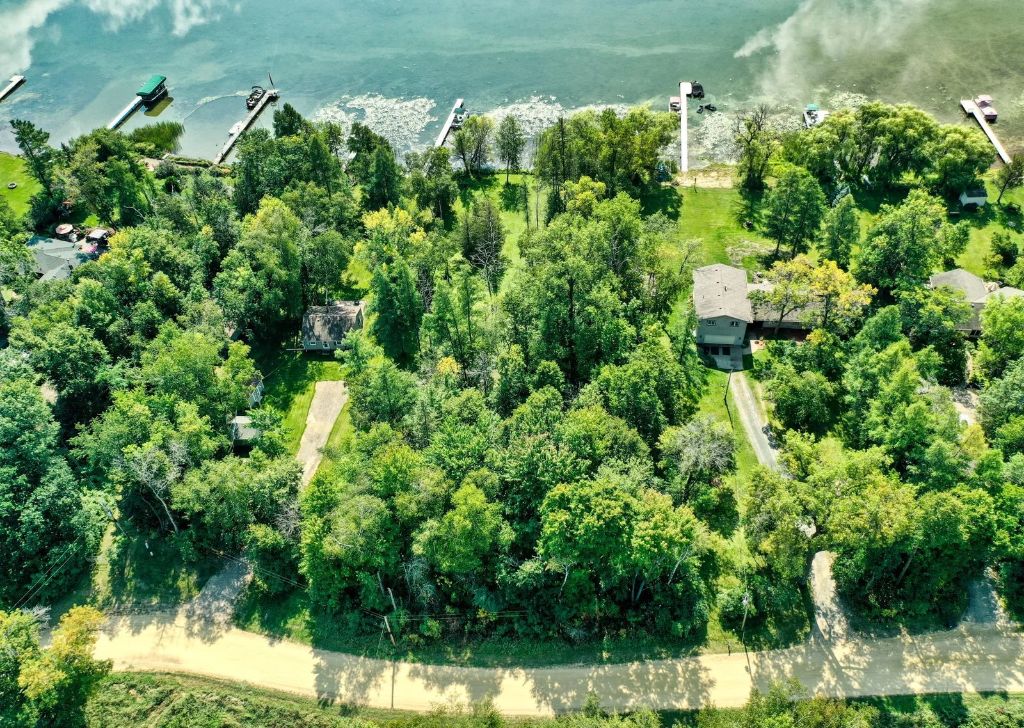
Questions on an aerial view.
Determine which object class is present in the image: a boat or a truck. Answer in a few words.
boat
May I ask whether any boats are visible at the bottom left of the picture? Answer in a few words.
No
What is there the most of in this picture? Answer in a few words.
trees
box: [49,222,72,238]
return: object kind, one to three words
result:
umbrella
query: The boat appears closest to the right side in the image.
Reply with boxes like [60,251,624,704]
[976,92,1000,123]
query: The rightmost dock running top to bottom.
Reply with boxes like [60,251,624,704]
[678,80,692,174]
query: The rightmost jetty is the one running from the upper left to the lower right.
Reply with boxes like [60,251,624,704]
[961,100,1013,164]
